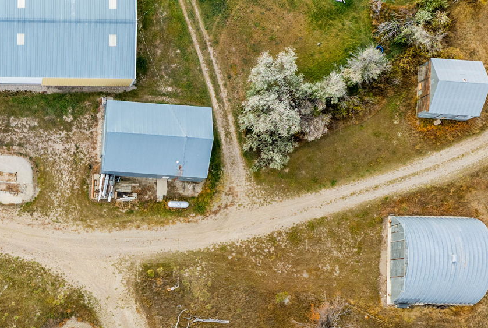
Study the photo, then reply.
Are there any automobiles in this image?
No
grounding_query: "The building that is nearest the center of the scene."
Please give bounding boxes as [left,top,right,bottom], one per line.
[100,100,214,183]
